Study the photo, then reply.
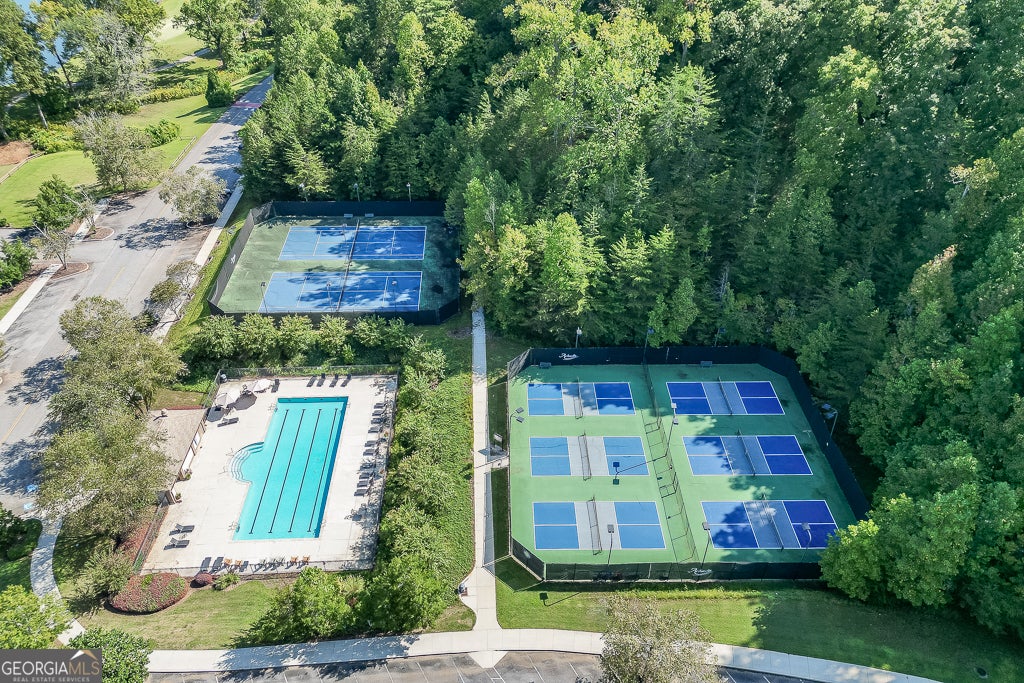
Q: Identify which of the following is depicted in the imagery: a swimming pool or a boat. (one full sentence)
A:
Of the two, only a swimming pool appears.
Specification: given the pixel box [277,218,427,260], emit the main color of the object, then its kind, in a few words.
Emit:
blue tennis court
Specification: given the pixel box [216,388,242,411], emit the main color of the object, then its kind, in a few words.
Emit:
white umbrella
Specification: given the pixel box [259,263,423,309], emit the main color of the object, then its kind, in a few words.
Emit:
blue tennis court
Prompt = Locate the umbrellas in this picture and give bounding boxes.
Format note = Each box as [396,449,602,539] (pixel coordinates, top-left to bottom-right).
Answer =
[216,388,242,411]
[248,377,274,400]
